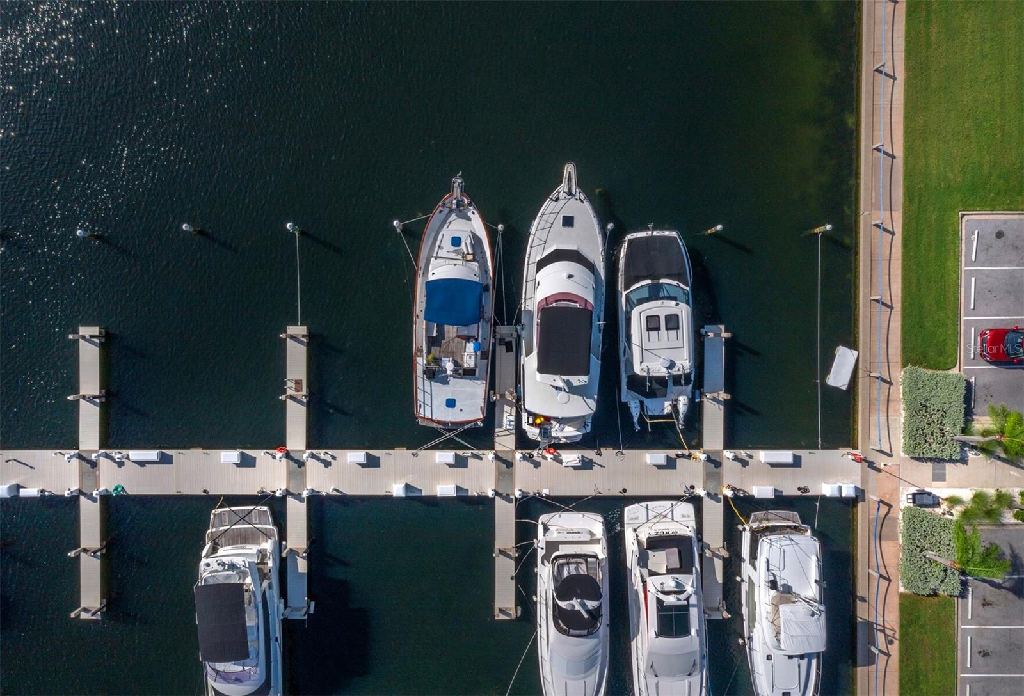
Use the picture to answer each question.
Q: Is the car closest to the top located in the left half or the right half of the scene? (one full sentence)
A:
It is on the right.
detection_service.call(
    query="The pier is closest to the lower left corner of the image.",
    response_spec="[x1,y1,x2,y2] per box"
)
[79,496,105,619]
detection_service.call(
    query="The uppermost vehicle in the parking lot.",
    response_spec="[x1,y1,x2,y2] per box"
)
[976,324,1024,366]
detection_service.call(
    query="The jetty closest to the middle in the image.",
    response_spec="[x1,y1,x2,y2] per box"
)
[495,325,515,450]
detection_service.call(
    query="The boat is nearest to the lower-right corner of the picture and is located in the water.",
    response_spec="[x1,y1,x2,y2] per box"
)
[740,510,827,696]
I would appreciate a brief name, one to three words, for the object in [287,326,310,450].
pier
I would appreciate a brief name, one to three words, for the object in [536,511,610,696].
boat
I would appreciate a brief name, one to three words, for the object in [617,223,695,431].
boat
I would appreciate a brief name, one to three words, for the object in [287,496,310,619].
pier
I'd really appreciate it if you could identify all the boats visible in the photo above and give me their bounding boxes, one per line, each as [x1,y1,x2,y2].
[413,171,494,429]
[520,161,606,442]
[536,511,610,696]
[193,505,285,696]
[621,499,709,696]
[617,223,695,431]
[740,510,827,696]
